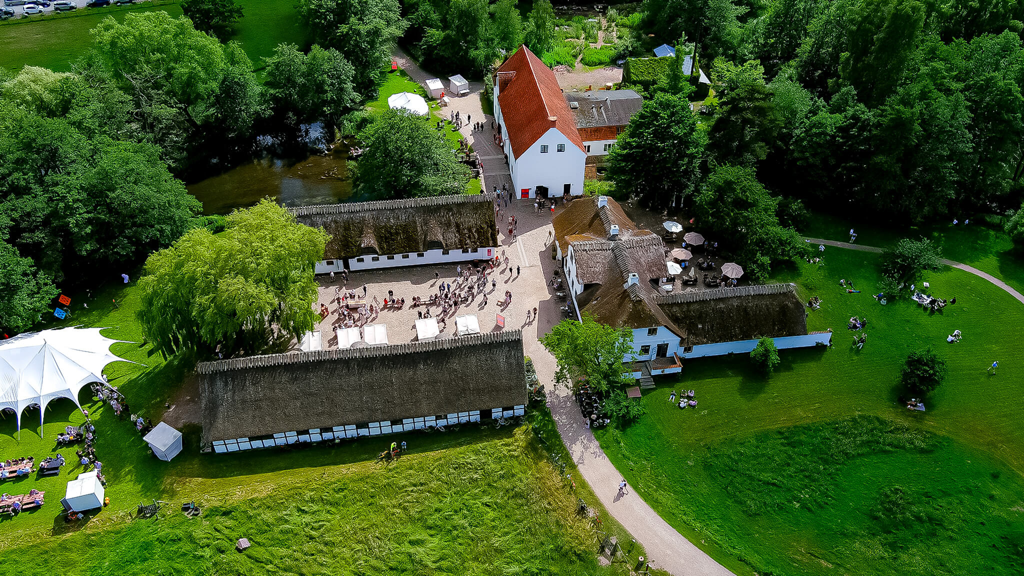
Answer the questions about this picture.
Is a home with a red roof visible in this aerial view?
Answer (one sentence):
Yes, the photo shows a home with a red roof.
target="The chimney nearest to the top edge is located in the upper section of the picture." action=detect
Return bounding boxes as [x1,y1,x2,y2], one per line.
[545,113,558,129]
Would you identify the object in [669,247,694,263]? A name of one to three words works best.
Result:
umbrella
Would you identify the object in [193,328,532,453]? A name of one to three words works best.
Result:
barn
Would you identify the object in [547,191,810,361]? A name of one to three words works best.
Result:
house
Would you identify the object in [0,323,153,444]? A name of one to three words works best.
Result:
tent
